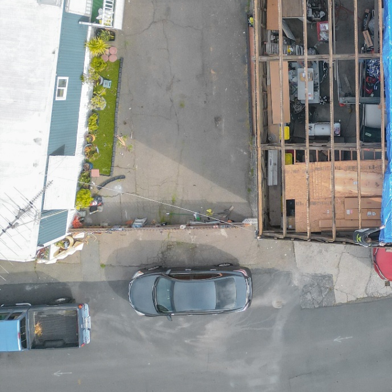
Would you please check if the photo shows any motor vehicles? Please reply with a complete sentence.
Yes, I can see a motor vehicle in this picture.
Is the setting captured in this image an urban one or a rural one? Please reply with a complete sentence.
The land in this view is best described as urban.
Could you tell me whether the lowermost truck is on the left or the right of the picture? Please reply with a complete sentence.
The lowermost truck appears in the left half of the scene.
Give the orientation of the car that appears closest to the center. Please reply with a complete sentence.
I'd say the car that appears closest to the center is aligned from left to right in the picture.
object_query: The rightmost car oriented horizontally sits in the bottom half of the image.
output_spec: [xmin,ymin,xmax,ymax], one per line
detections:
[129,263,253,322]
